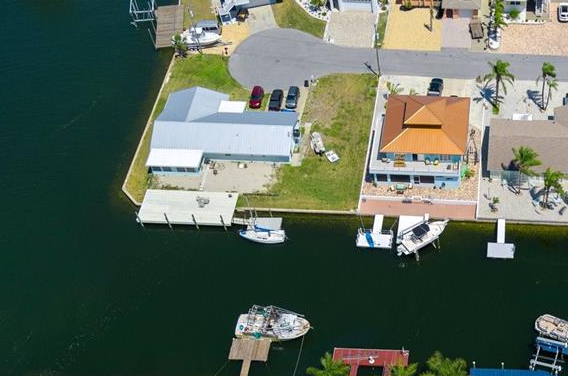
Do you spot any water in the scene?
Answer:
Yes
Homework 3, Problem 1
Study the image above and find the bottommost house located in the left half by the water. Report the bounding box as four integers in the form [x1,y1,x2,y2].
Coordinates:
[146,86,298,177]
